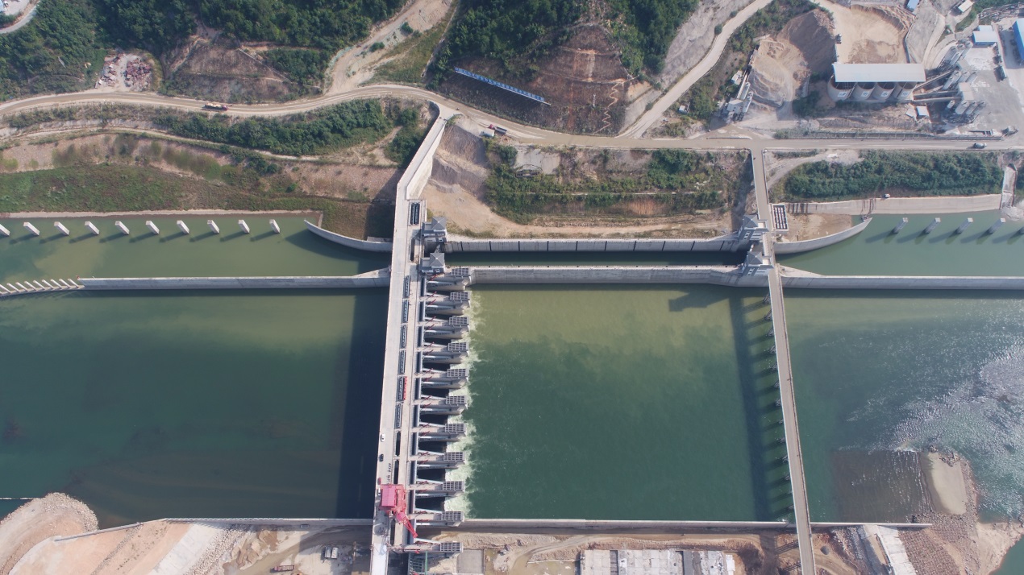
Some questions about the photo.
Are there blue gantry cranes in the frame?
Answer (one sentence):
No, there's no blue gantry crane here.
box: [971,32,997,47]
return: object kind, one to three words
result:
shed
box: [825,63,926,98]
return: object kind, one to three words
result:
house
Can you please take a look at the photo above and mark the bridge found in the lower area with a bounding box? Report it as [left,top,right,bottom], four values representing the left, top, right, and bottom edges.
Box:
[751,148,819,575]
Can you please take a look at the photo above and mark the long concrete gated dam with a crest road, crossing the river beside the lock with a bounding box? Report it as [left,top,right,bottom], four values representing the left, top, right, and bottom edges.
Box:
[368,197,470,575]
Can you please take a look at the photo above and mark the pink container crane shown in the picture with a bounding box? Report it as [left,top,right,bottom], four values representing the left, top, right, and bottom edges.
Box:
[380,483,418,539]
